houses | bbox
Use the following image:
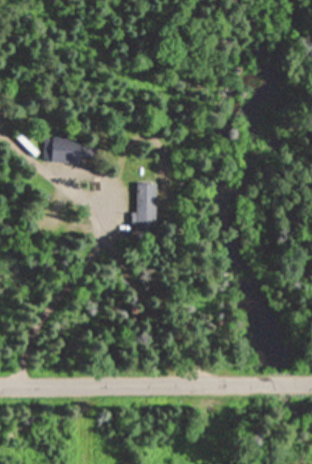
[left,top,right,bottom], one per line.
[132,182,158,222]
[52,136,94,164]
